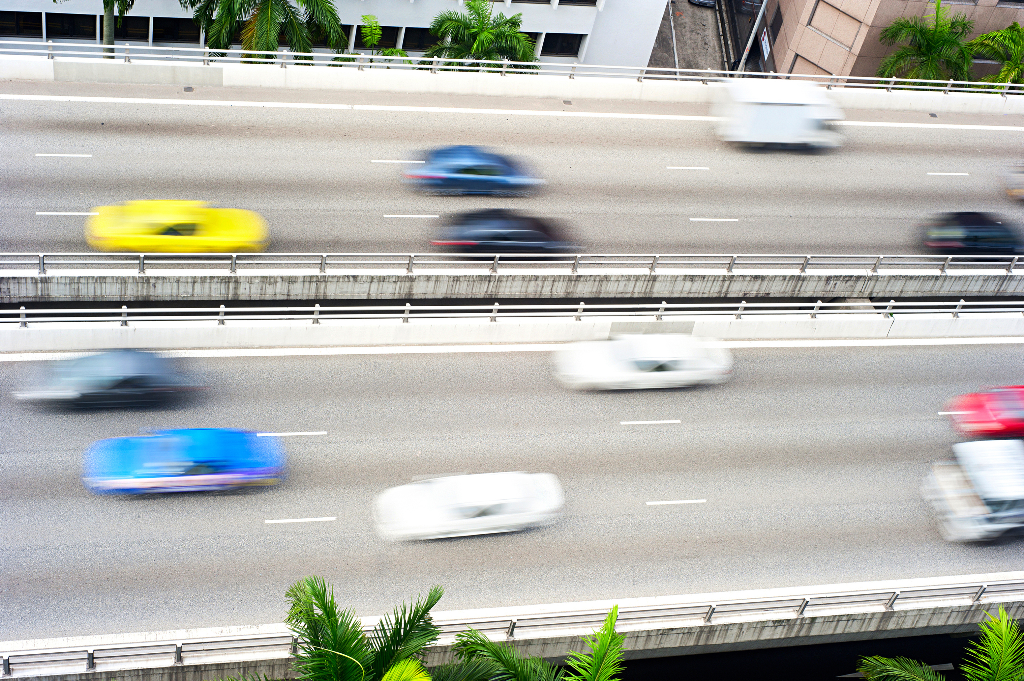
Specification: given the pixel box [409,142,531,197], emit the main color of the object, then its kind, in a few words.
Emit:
blue car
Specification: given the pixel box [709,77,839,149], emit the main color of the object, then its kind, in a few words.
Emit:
white truck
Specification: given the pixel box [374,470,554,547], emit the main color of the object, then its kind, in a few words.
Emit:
white car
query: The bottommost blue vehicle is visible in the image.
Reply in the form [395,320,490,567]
[87,425,282,500]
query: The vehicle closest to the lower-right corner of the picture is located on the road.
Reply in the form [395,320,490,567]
[918,445,1024,537]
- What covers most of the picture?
paved ground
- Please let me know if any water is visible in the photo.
No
